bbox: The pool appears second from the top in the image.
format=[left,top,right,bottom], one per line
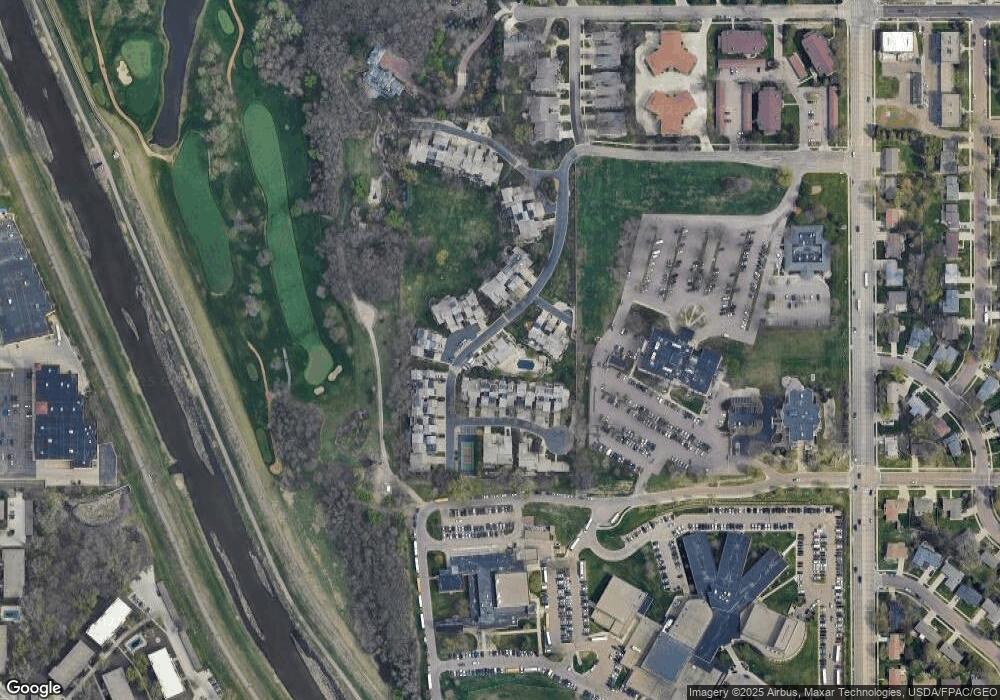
[1,606,21,621]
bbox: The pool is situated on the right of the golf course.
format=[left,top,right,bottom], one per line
[497,350,551,377]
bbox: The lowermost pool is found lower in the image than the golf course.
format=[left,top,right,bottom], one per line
[125,635,146,653]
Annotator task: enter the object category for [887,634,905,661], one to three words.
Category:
house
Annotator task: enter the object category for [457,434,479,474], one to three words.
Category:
tennis court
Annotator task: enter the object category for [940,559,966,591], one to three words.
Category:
house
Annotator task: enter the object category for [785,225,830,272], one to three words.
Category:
building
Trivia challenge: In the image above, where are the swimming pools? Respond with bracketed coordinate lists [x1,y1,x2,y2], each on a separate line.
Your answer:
[1,606,21,621]
[125,635,146,653]
[497,350,551,377]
